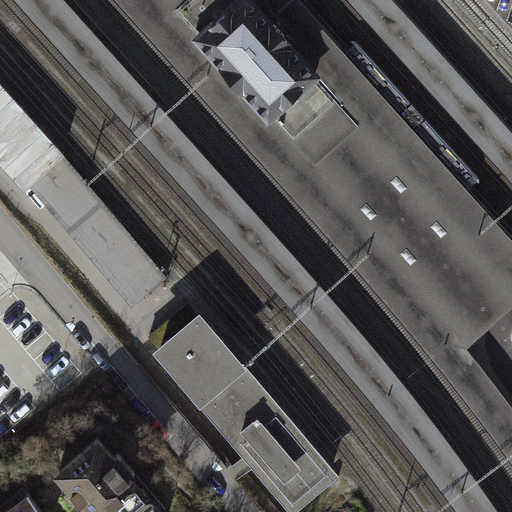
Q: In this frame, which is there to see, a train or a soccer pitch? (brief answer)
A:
train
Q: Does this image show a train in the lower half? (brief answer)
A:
No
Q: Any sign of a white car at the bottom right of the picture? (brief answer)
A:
No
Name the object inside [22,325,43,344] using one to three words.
car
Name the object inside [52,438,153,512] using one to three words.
house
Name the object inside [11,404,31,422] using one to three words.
car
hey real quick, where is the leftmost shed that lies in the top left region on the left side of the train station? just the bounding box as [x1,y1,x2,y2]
[0,82,64,192]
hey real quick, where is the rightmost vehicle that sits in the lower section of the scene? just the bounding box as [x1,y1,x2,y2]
[208,476,227,495]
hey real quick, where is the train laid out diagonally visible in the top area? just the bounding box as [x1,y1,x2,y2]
[346,40,477,186]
